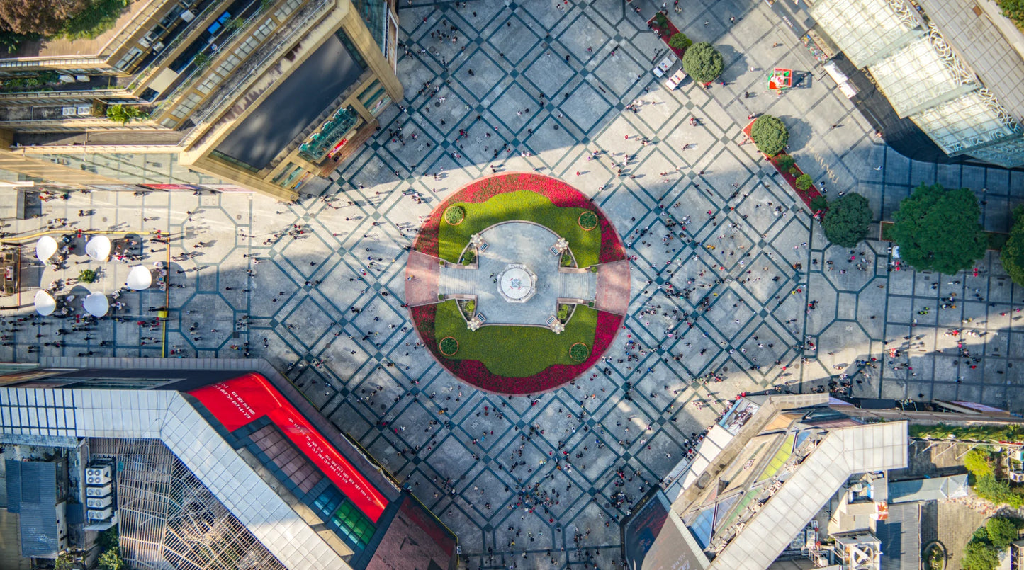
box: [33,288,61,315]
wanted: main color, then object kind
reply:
white umbrella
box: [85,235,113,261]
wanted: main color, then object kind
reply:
white umbrella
